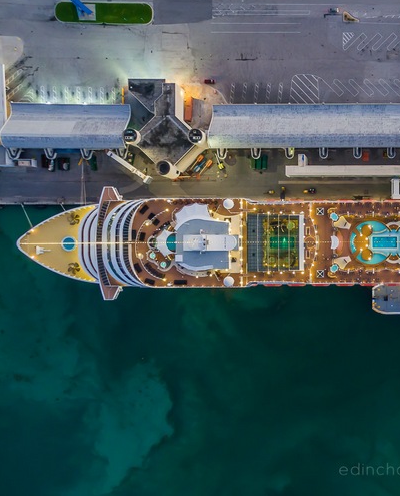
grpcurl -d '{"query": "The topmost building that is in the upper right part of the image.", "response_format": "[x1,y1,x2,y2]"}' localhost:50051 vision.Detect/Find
[209,102,400,161]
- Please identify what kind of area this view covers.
port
